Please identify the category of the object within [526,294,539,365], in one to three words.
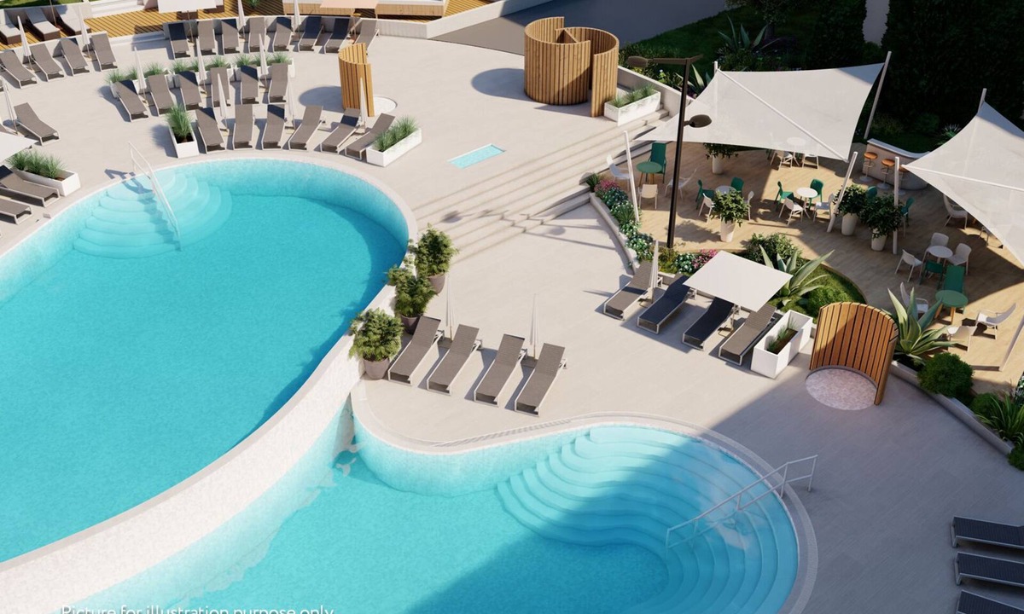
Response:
umbrella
